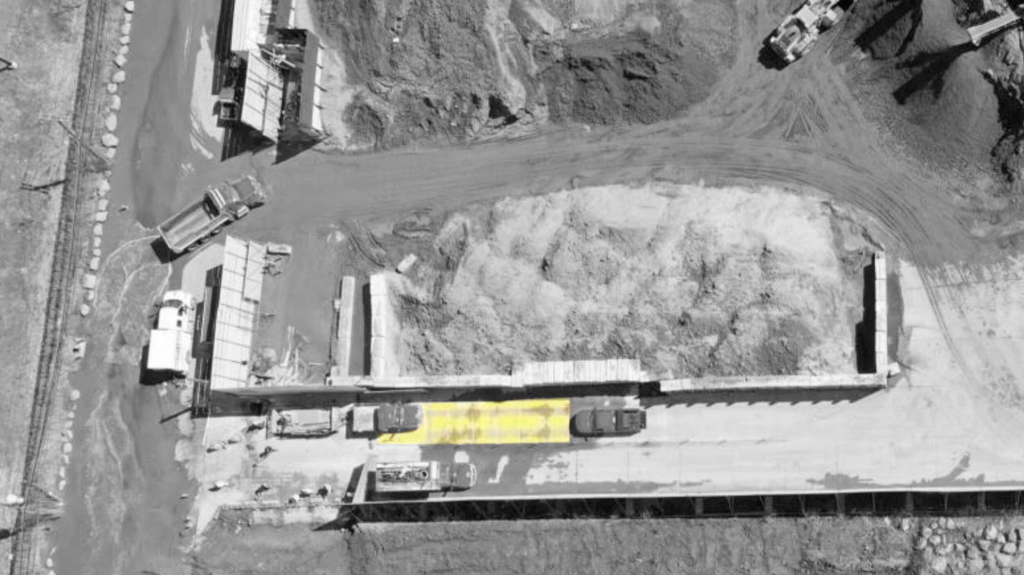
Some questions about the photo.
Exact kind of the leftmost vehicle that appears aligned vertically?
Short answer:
truck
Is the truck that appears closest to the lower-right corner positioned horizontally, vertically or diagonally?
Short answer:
horizontally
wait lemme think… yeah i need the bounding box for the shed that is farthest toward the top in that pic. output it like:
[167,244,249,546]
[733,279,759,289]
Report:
[231,0,282,74]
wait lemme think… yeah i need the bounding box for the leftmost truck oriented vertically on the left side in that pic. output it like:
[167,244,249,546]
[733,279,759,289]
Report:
[149,291,197,375]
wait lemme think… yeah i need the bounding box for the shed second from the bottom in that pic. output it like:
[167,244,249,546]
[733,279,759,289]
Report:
[240,51,286,151]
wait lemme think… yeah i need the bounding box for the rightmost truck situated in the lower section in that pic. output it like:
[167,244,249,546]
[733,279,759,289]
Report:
[573,405,651,437]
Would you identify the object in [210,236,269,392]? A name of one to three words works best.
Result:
shed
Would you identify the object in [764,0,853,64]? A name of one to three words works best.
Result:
work vehicle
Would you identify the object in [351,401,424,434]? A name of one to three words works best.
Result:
truck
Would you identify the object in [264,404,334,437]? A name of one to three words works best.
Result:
trailer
